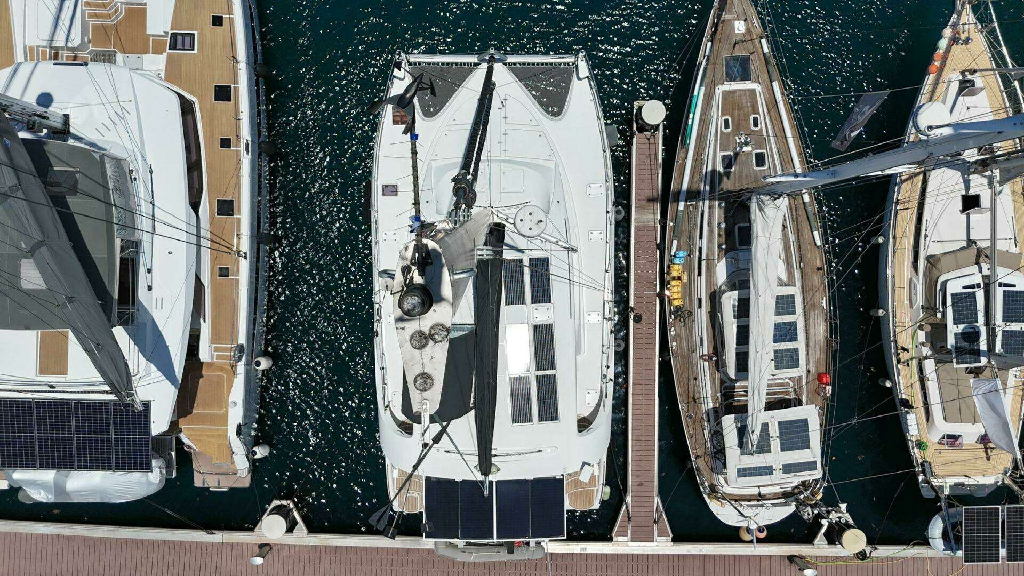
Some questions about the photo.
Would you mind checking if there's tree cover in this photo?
No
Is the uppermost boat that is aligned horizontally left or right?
left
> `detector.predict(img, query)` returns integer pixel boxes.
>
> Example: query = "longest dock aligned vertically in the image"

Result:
[609,100,673,546]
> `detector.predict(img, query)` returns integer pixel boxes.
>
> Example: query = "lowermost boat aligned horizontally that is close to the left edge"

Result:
[0,447,166,505]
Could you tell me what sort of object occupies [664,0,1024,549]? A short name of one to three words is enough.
boat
